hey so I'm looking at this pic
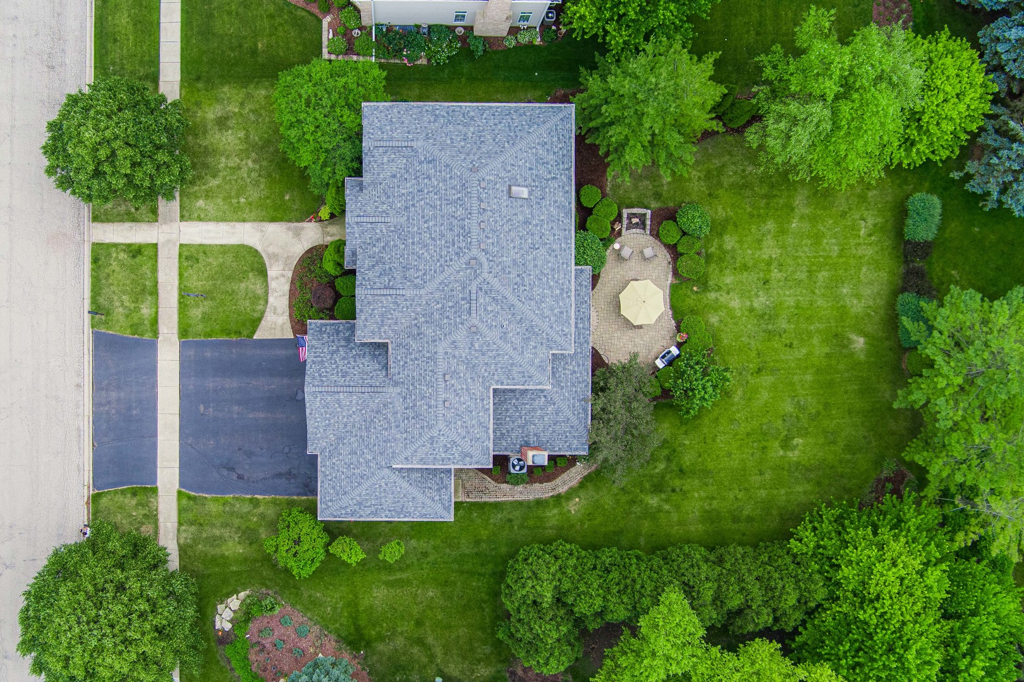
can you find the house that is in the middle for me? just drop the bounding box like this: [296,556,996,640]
[304,100,592,523]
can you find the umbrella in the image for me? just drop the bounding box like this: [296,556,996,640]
[619,279,664,325]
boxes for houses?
[304,100,592,523]
[351,0,557,58]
